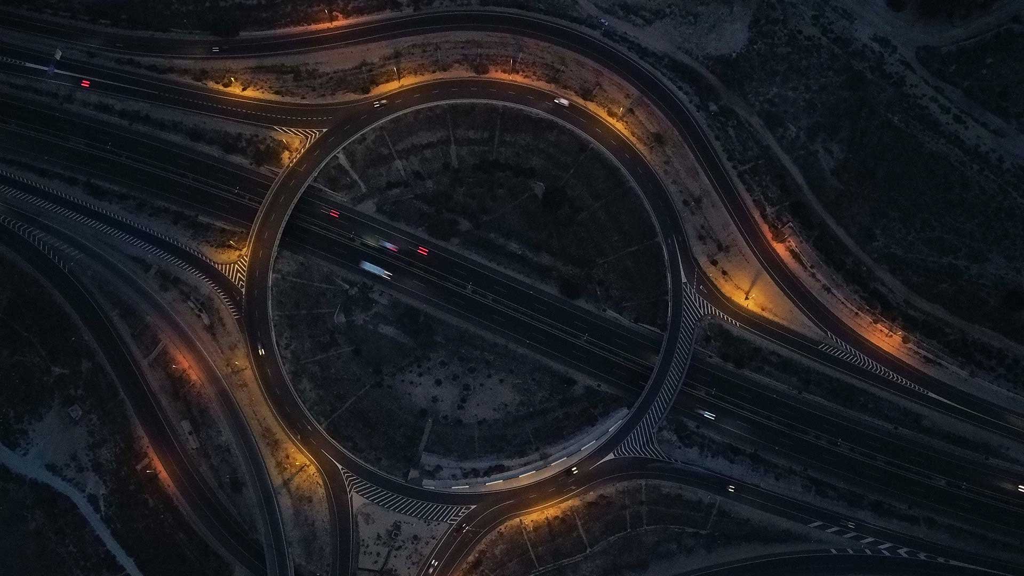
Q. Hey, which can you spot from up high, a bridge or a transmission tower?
bridge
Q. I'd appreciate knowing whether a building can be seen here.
No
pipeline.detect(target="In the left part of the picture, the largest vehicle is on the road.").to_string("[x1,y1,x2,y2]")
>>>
[360,260,391,278]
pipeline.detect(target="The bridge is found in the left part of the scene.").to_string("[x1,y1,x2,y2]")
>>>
[245,143,328,265]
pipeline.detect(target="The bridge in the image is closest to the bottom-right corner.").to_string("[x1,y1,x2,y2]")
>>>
[618,321,700,460]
